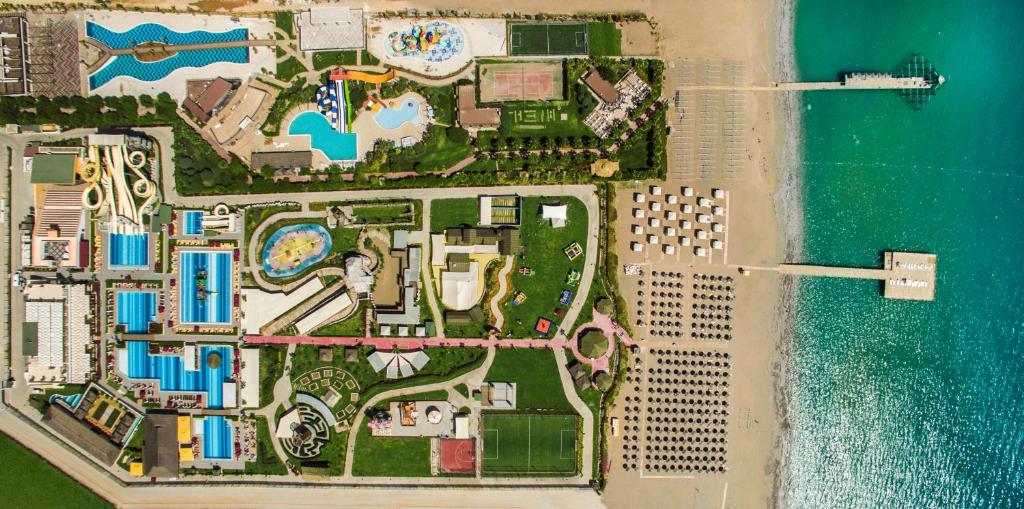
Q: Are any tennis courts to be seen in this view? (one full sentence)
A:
Yes, there is a tennis court in the image.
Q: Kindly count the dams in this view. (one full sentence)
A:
No dams are visible.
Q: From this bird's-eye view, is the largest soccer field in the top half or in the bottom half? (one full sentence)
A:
The largest soccer field sits in the bottom half of the picture.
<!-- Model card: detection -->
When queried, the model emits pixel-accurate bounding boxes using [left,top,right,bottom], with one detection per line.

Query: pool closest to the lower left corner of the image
[49,393,83,410]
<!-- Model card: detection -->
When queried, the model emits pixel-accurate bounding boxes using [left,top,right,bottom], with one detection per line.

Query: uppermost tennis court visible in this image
[480,61,564,101]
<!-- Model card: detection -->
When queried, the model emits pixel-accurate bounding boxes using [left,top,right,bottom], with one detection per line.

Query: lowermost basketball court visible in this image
[440,439,476,475]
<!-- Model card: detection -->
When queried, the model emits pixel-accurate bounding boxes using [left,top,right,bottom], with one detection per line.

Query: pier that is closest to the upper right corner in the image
[762,73,931,91]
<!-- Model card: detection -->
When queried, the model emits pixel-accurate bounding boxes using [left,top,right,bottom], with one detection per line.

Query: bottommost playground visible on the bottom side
[400,401,418,426]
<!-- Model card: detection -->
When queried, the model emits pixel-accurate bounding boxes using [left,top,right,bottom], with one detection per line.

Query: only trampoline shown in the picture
[534,317,552,335]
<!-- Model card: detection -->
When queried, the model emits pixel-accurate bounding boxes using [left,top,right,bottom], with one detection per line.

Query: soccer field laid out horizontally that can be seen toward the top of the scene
[508,20,589,56]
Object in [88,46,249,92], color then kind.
blue swimming pool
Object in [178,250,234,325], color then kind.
blue swimming pool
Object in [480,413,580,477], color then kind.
green soccer field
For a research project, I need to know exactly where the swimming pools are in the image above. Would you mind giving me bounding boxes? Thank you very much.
[178,250,234,325]
[88,46,249,92]
[108,232,150,267]
[121,419,140,445]
[49,393,83,410]
[184,210,206,237]
[117,340,232,409]
[193,414,233,460]
[372,96,422,131]
[84,18,249,50]
[116,290,158,334]
[262,223,333,278]
[286,109,359,162]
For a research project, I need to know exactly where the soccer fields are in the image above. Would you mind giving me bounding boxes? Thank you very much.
[508,20,589,56]
[480,413,580,477]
